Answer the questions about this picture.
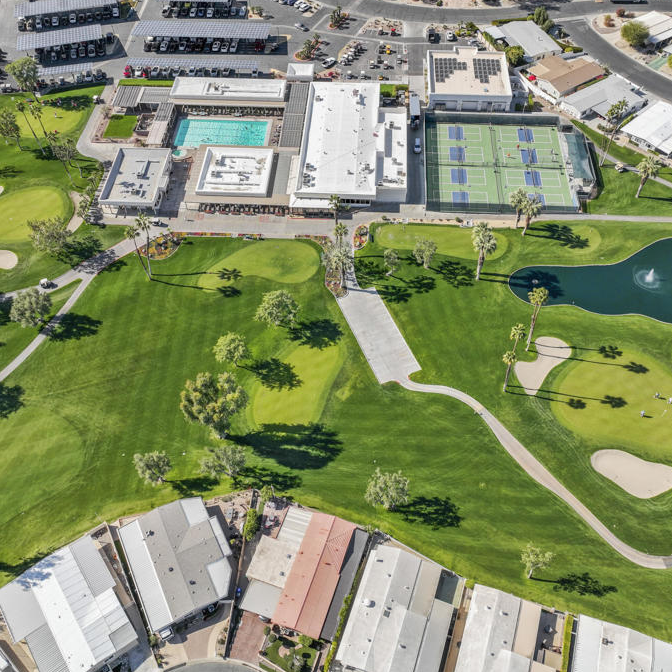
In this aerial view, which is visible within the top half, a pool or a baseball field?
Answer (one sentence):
There is a pool within the top half.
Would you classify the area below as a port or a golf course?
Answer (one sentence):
What you see here is a golf course.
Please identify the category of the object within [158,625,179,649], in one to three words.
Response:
car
